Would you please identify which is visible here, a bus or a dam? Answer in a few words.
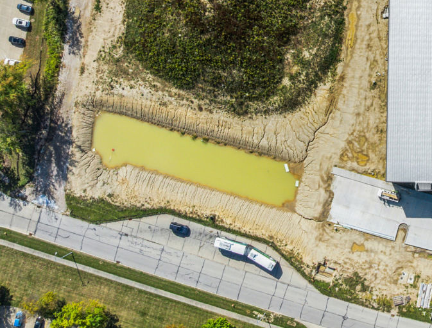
bus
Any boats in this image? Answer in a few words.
No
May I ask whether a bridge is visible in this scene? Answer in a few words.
No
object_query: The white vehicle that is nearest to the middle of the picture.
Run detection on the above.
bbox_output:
[210,239,277,274]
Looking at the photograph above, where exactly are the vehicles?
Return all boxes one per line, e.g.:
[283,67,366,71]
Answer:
[210,239,277,274]
[5,58,22,66]
[35,317,45,328]
[18,4,34,13]
[14,310,25,327]
[169,224,190,234]
[379,190,400,202]
[13,18,31,28]
[9,36,27,45]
